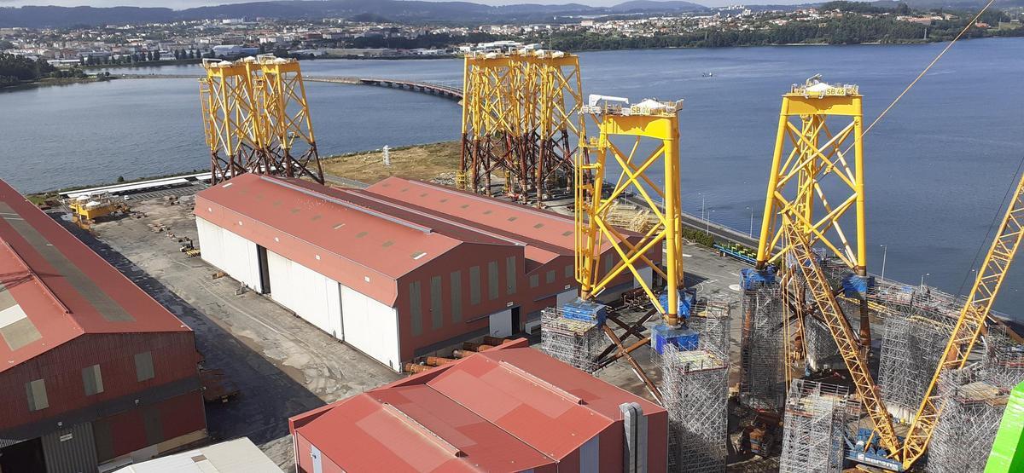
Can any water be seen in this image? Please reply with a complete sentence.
Yes, the picture does contain water.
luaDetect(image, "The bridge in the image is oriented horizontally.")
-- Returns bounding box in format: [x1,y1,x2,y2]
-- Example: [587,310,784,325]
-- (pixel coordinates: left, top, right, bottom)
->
[356,81,474,103]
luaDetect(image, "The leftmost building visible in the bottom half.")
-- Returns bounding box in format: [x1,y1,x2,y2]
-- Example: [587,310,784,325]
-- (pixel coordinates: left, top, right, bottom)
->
[0,180,207,473]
